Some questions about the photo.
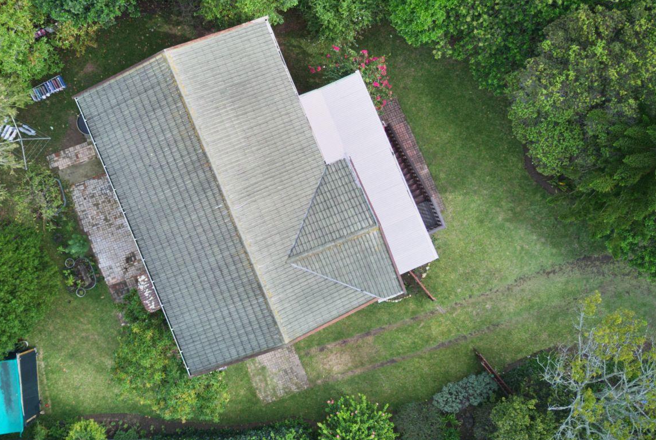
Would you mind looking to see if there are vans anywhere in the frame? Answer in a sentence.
No, the photo shows no van.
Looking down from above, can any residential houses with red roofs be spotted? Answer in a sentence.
No, there's no residential house with a red roof here.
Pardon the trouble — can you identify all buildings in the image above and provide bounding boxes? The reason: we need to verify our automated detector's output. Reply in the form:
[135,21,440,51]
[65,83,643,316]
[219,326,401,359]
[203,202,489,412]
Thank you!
[0,343,41,437]
[71,16,440,378]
